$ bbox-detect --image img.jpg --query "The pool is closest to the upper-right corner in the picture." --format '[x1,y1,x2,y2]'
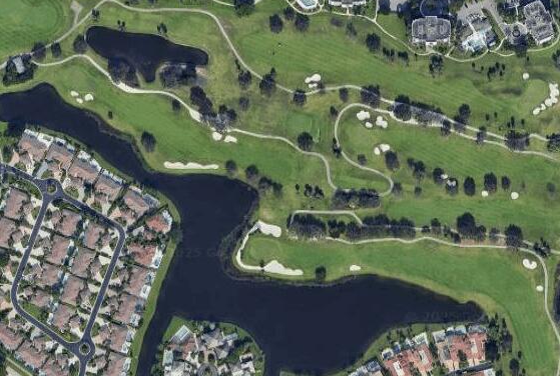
[463,32,491,57]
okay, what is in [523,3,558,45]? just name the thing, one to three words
building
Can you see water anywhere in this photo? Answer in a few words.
Yes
